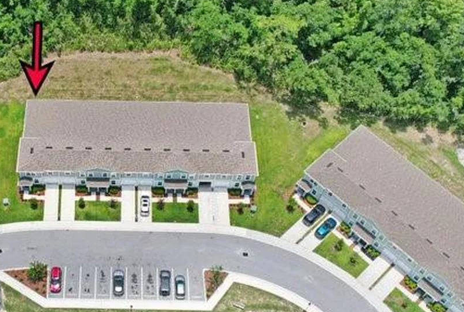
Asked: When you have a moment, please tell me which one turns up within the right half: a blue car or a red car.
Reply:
blue car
